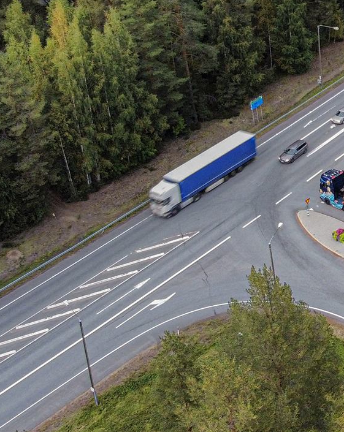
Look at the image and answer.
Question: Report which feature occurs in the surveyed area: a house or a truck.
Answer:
truck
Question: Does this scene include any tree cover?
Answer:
Yes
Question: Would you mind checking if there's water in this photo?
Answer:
No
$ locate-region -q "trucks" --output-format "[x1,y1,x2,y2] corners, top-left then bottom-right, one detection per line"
[319,167,344,209]
[152,131,258,218]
